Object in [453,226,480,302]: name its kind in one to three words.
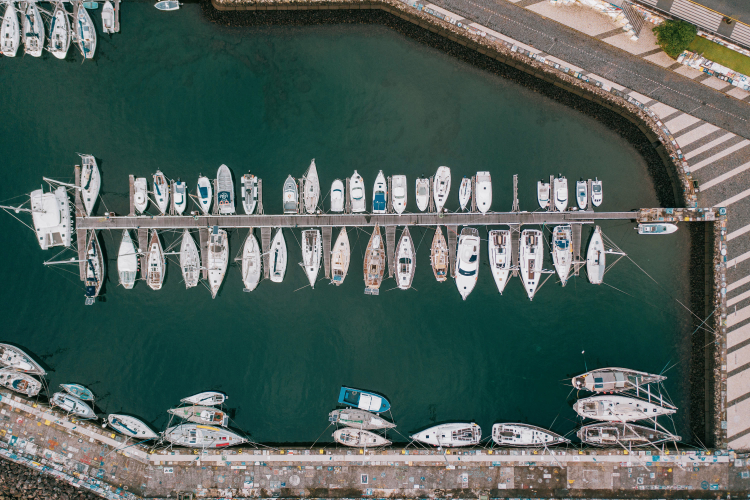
boat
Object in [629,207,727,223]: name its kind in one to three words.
pier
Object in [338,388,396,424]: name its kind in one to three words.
boat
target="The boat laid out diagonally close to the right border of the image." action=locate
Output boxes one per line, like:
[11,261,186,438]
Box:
[587,223,715,332]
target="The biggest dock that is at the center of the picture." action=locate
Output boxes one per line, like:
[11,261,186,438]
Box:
[76,212,595,229]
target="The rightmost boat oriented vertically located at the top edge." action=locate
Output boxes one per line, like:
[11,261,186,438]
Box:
[101,1,116,36]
